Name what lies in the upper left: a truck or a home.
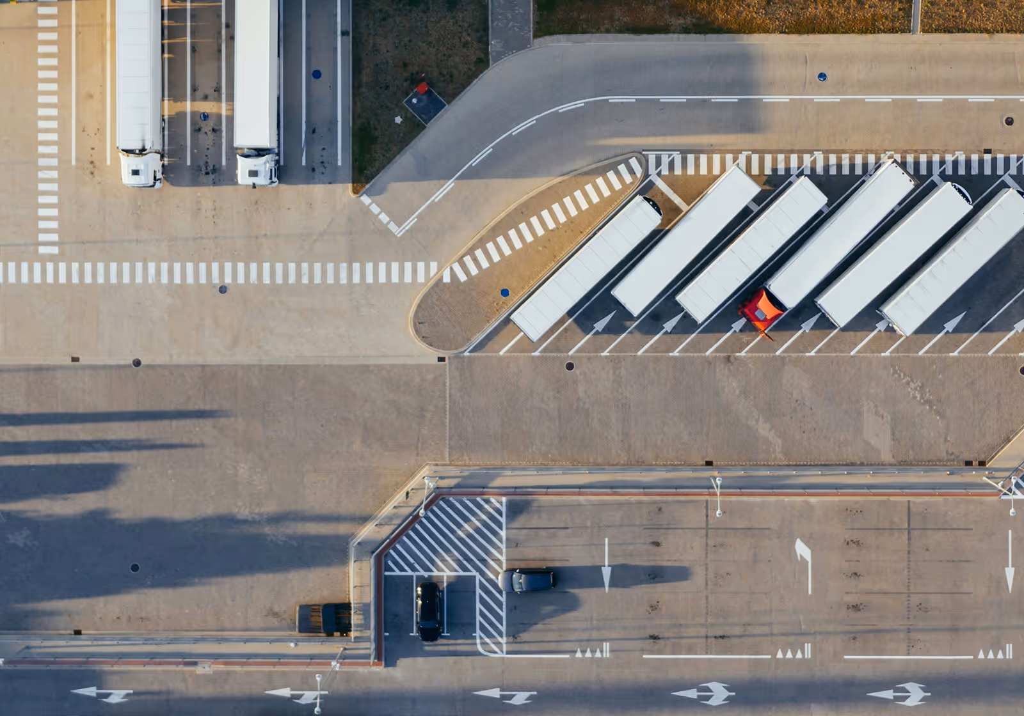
truck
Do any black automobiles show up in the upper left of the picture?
No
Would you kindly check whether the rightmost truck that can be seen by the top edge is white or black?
white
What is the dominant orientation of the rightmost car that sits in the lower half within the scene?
from side to side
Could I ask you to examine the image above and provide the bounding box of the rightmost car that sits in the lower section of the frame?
[500,568,556,596]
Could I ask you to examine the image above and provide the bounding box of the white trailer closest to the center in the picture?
[510,194,663,342]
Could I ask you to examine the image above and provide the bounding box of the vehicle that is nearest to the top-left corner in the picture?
[117,0,166,189]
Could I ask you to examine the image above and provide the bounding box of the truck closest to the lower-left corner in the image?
[295,602,354,637]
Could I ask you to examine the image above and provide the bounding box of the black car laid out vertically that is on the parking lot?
[415,580,444,641]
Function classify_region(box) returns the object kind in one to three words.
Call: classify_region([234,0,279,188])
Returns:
truck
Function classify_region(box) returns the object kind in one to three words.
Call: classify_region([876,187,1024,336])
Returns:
trailer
